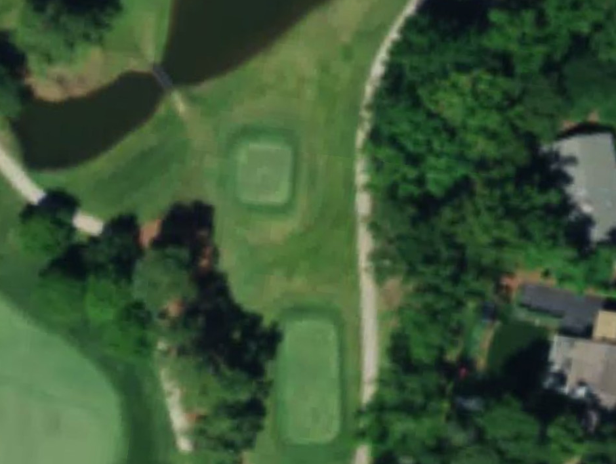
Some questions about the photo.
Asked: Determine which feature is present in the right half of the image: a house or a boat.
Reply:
house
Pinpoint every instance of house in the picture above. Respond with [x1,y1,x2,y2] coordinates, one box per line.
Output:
[546,337,616,421]
[519,282,604,341]
[552,134,616,244]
